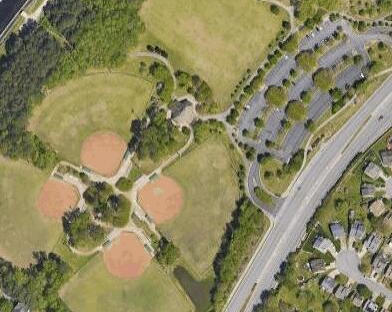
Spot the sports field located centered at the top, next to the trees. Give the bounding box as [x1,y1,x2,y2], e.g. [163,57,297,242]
[140,0,283,110]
